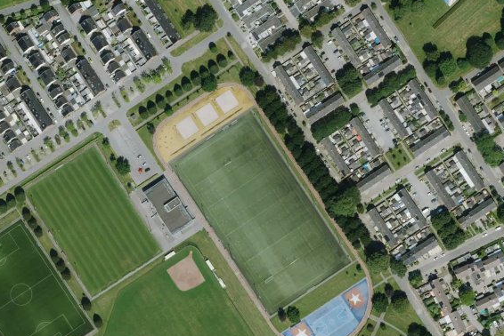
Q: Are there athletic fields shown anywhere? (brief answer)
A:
Yes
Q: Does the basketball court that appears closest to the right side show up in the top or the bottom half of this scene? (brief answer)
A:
bottom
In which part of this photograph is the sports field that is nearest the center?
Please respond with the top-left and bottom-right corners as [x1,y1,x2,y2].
[171,109,353,315]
